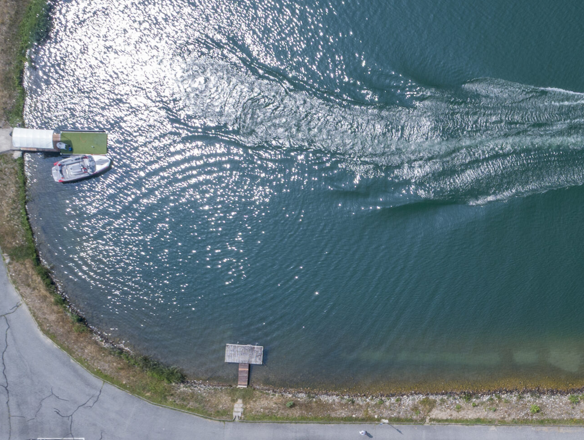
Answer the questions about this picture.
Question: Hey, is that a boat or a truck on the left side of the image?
boat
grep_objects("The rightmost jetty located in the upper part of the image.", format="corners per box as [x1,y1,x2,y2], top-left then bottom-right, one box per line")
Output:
[61,130,109,155]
